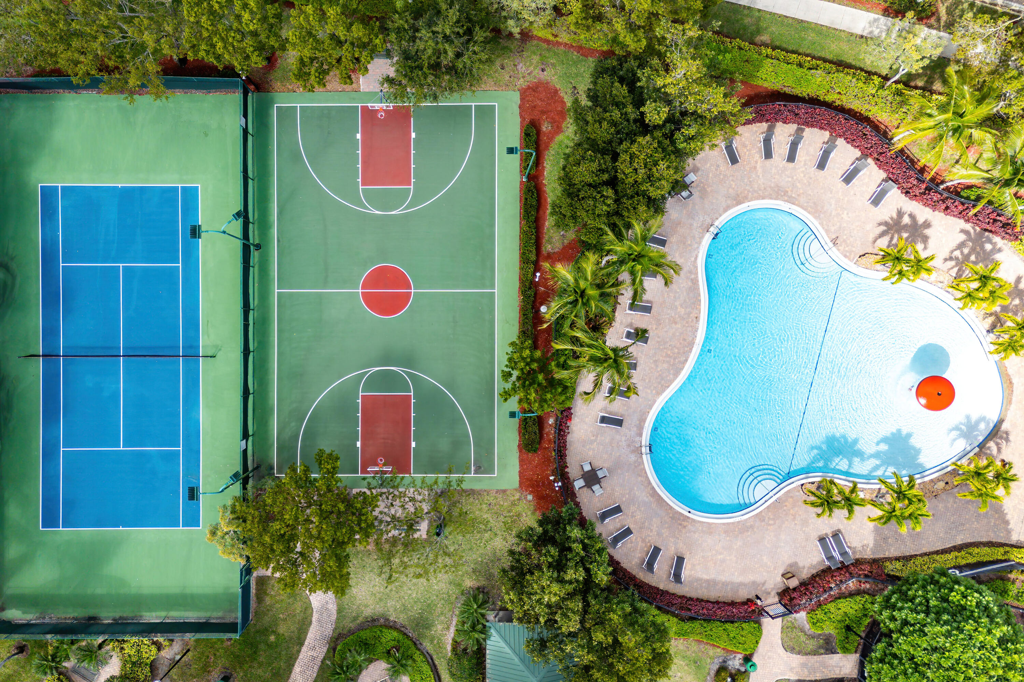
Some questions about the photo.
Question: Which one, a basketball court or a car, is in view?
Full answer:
Looking from above, you can make out a basketball court.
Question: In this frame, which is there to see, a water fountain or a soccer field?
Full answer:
The image shows a water fountain.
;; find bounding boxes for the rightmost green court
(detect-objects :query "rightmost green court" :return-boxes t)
[253,90,520,489]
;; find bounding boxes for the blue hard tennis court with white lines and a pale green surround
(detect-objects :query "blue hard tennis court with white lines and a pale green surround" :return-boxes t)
[0,91,253,620]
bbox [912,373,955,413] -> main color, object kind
orange fountain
